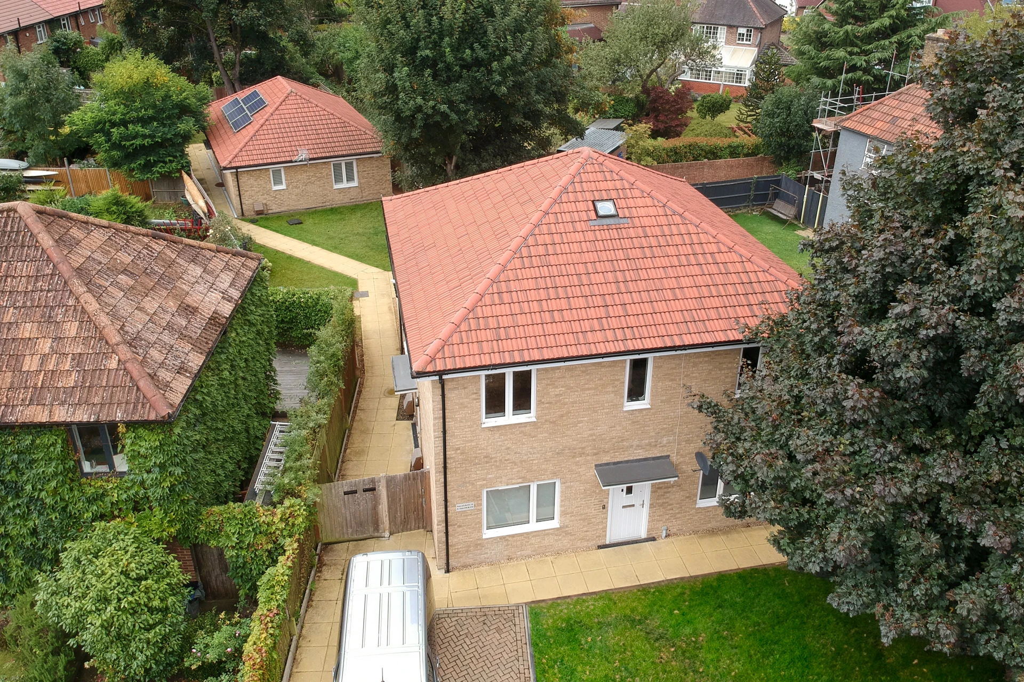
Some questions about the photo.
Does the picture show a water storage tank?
No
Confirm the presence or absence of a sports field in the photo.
No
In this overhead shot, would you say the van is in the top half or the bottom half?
bottom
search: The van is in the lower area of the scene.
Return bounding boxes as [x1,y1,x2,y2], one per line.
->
[335,551,441,682]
